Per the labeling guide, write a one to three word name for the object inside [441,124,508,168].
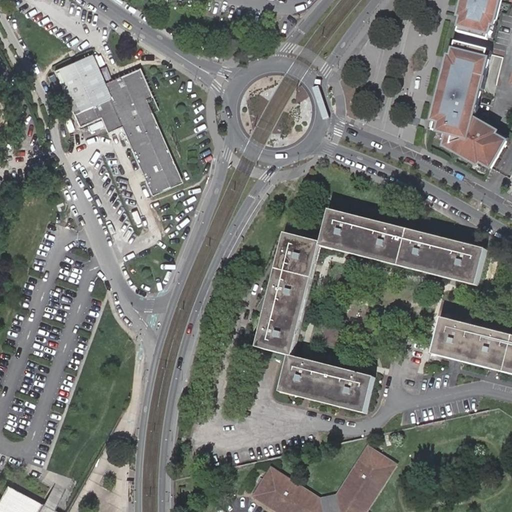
house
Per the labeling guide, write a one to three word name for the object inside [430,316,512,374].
building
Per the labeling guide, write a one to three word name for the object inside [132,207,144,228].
vehicle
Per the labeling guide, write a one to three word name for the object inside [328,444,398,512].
house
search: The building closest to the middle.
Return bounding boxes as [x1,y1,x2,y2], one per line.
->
[254,232,322,356]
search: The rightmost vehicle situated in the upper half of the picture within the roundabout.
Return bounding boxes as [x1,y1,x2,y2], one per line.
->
[313,82,330,118]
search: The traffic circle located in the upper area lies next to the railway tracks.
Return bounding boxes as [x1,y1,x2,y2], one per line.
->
[223,58,332,166]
